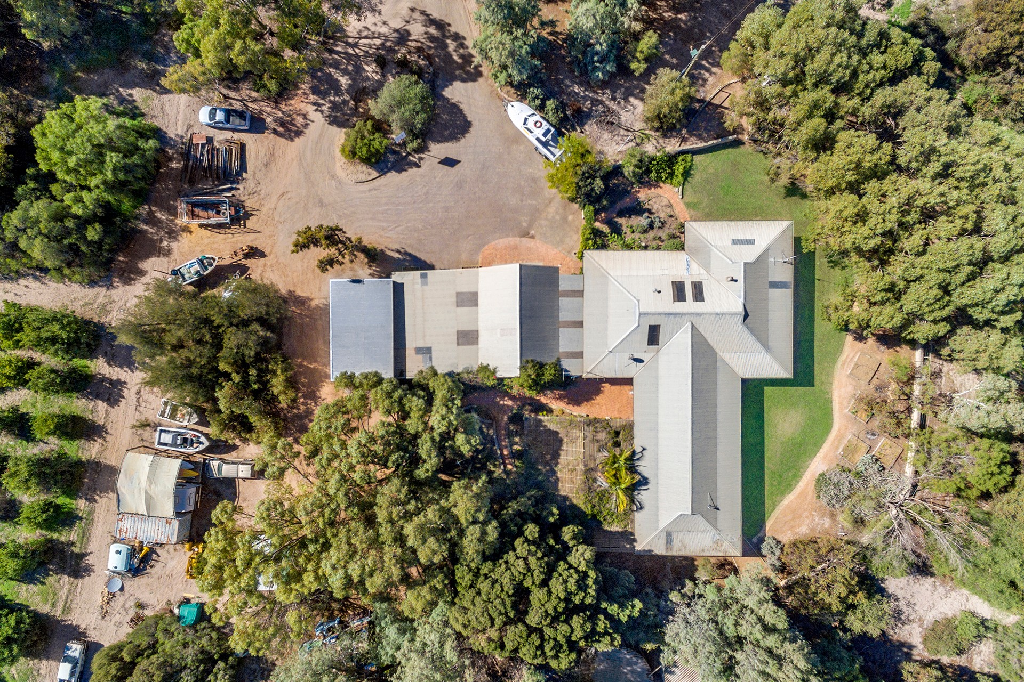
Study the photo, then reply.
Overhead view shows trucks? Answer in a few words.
Yes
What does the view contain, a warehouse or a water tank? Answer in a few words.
water tank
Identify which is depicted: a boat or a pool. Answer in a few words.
boat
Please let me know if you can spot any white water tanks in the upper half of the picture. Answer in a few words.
No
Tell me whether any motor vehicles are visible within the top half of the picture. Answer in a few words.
Yes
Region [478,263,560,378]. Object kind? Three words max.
shed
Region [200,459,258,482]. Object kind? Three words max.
truck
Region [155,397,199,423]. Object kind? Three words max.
boat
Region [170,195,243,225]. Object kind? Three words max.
trailer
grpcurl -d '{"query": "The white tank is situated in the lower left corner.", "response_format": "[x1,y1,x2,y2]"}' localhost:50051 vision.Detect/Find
[99,544,130,577]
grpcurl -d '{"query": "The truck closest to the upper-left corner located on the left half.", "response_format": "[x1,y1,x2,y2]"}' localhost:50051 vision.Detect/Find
[195,101,250,129]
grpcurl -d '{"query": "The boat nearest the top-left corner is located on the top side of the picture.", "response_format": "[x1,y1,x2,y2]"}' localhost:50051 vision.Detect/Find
[166,255,216,288]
